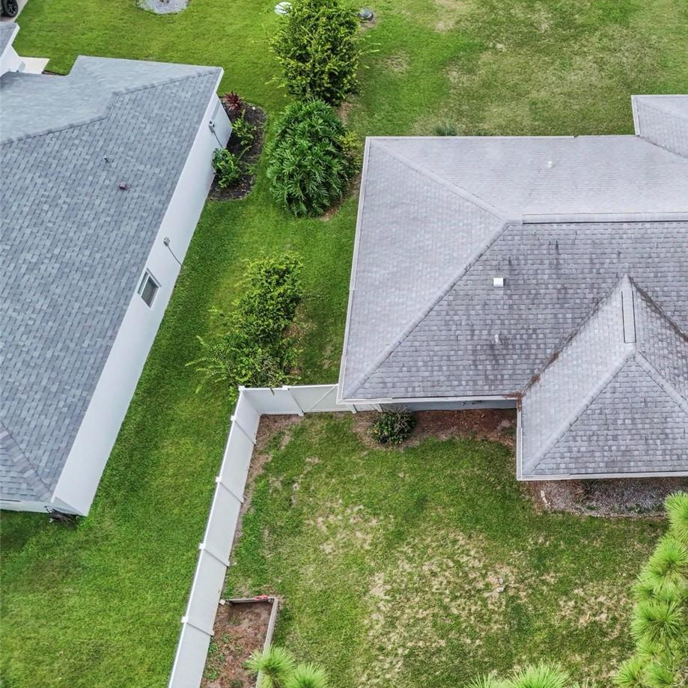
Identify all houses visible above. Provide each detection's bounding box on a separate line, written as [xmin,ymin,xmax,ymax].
[0,23,231,515]
[338,94,688,487]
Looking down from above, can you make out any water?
No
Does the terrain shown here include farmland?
No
